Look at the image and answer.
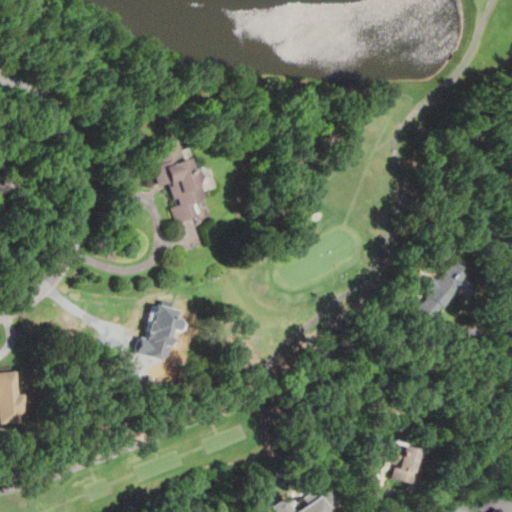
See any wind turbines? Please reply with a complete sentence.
No, the frame has no wind turbine in it.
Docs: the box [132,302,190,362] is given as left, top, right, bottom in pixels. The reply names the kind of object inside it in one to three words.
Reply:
house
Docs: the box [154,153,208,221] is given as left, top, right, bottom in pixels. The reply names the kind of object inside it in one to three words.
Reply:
house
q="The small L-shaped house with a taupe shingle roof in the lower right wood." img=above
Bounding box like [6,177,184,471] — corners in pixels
[390,446,422,484]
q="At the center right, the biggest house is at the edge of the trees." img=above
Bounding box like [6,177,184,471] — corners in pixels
[418,265,469,316]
